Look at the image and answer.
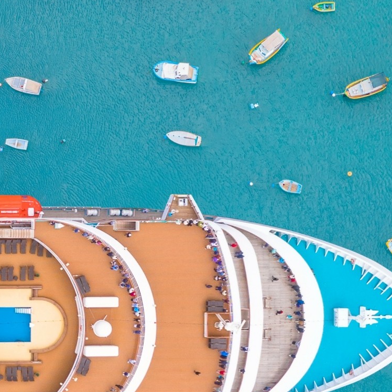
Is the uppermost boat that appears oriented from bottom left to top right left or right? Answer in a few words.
right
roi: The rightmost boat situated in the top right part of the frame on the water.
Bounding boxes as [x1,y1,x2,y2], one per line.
[339,71,392,99]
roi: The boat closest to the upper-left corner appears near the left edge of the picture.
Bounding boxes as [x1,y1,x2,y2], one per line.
[2,77,43,95]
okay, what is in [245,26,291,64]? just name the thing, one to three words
boat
